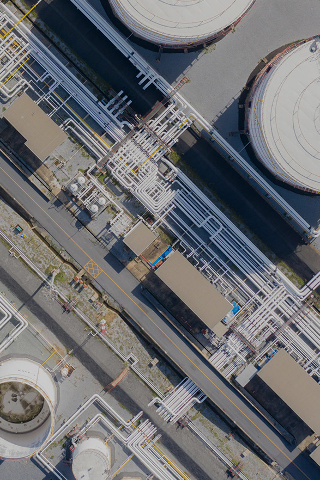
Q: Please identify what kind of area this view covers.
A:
industrial area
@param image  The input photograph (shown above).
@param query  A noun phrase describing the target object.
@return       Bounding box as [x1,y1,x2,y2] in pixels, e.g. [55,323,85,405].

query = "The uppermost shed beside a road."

[0,93,68,169]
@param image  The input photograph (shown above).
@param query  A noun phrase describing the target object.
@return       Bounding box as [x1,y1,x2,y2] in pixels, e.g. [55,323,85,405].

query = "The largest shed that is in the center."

[147,247,234,332]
